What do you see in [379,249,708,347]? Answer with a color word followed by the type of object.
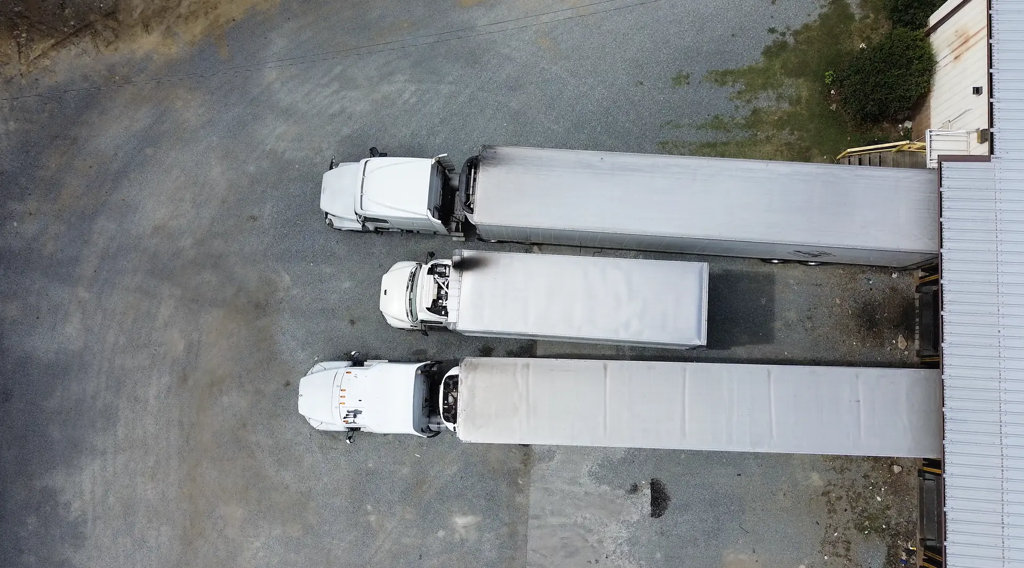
white truck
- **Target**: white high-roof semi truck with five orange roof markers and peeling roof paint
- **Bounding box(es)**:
[298,350,451,445]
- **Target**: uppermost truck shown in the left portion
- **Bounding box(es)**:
[320,147,466,244]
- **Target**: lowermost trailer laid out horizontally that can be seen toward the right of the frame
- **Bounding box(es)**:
[440,356,943,458]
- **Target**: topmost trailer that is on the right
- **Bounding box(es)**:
[457,145,940,268]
